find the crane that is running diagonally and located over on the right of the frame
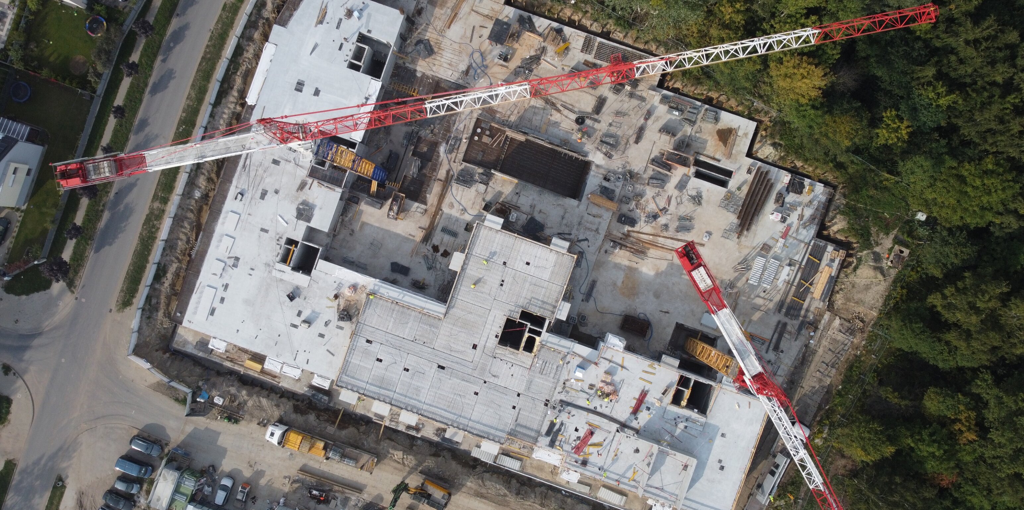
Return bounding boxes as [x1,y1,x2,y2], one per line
[673,237,839,510]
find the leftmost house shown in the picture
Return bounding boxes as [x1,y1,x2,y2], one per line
[0,117,65,209]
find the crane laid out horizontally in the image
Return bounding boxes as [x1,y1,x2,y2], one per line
[48,6,938,194]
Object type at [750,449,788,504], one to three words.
shed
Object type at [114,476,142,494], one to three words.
car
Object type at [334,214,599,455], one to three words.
building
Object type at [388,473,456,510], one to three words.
work vehicle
